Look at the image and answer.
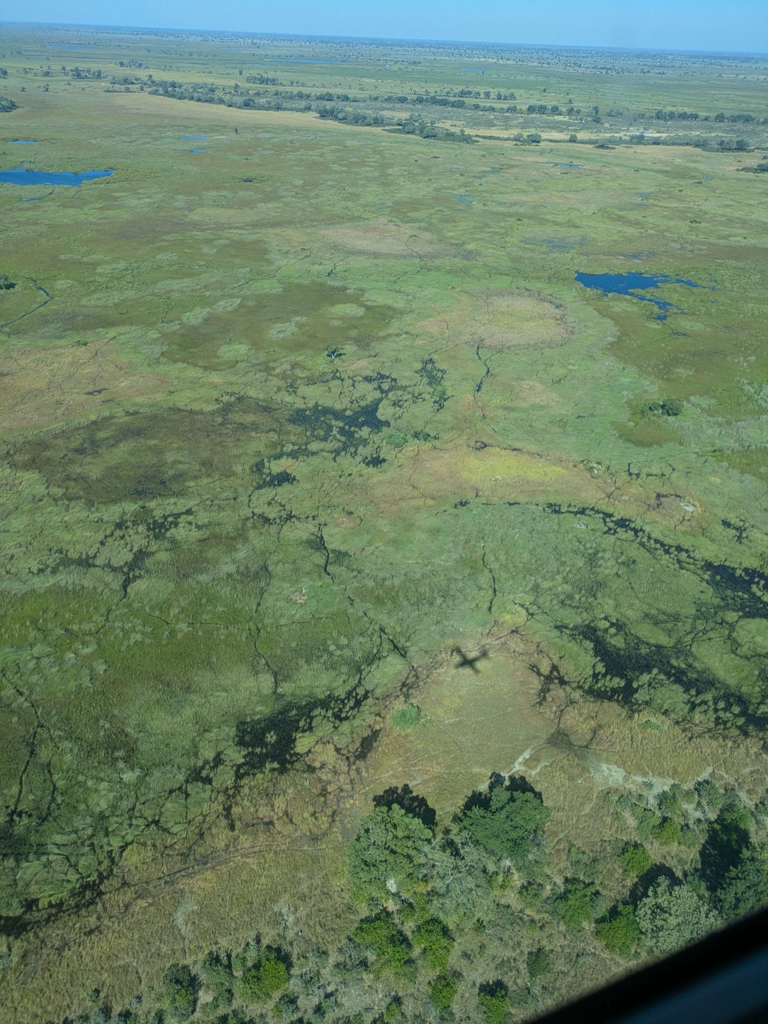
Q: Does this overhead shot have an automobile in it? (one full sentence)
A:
No, I can't see a single automobile in this photo.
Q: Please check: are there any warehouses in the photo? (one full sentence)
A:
No, I find no warehouse anywhere in the image.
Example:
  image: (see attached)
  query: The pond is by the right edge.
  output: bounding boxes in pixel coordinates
[565,273,731,343]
